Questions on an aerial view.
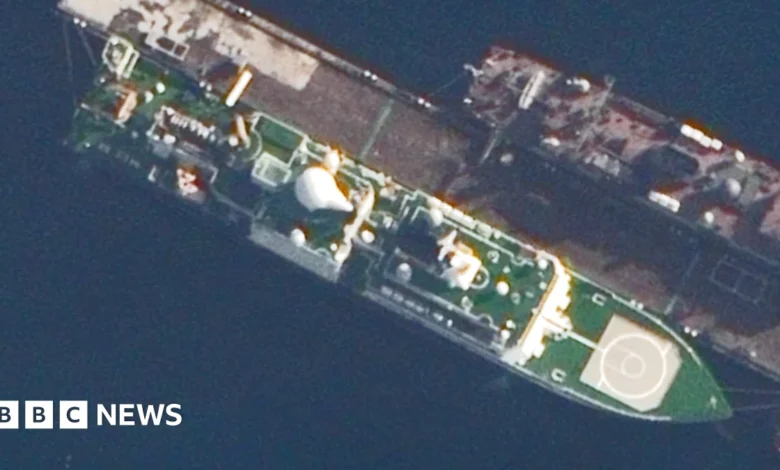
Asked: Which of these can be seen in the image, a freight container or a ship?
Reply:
ship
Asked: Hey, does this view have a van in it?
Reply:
No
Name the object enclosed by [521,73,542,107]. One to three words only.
boat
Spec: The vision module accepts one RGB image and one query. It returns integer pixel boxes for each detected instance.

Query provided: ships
[463,45,780,266]
[66,37,731,420]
